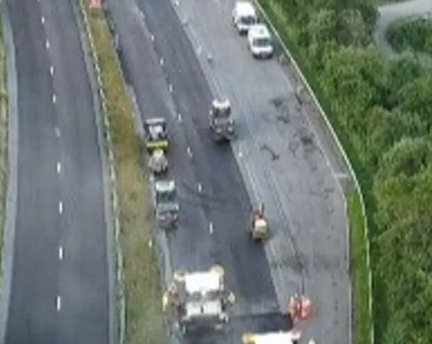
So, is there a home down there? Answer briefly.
No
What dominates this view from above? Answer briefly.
paved ground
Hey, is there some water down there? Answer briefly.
No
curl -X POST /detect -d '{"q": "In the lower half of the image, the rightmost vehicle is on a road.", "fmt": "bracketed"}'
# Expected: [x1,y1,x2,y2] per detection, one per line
[246,204,271,239]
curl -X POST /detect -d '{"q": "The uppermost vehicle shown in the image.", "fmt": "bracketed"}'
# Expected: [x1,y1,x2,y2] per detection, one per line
[233,5,256,34]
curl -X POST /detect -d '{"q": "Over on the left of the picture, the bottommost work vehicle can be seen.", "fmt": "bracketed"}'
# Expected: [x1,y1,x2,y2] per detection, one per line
[152,181,178,230]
